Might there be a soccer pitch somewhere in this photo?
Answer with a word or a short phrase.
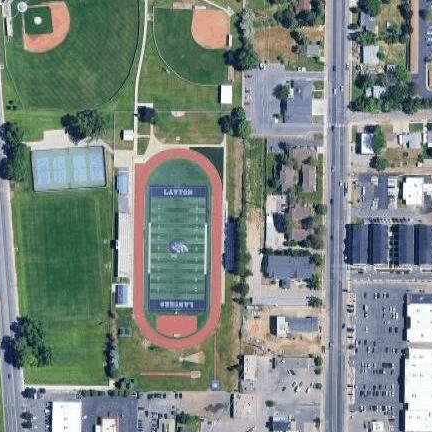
Yes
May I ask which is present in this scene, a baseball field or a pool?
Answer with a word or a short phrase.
baseball field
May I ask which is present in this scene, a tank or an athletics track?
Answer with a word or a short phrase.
athletics track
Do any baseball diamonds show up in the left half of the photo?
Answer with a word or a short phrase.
Yes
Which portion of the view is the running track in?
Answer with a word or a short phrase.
center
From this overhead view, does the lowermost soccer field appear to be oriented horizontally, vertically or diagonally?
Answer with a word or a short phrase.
vertically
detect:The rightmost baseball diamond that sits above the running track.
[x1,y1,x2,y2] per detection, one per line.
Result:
[153,8,231,85]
